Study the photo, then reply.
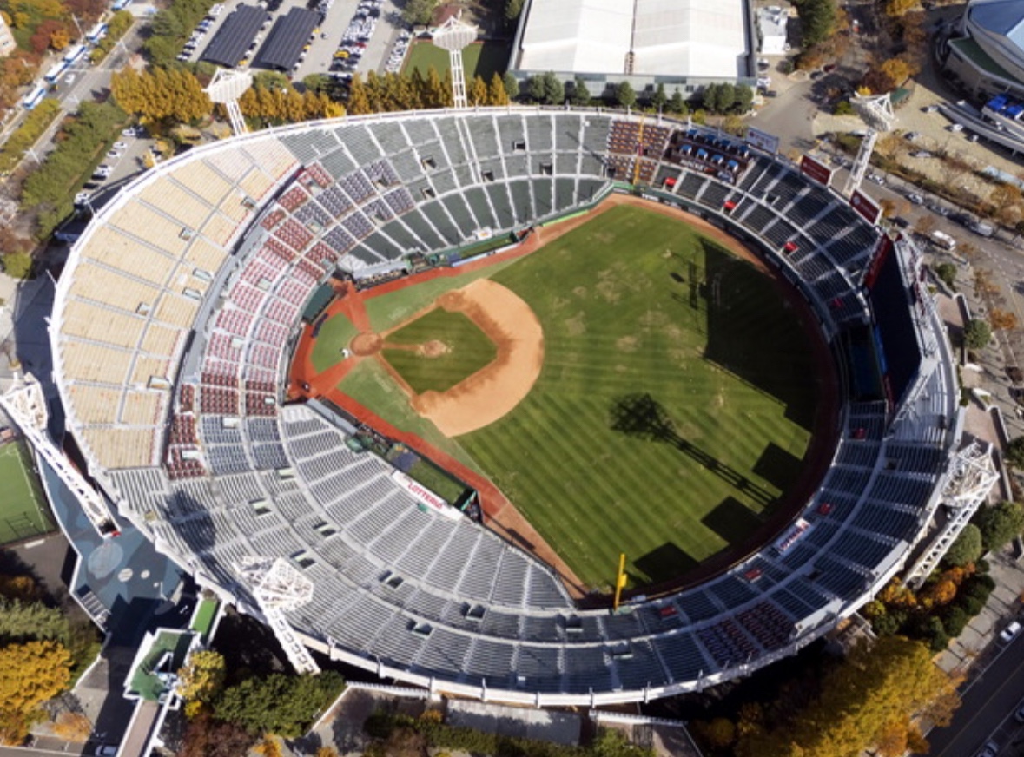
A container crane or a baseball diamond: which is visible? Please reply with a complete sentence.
This aerial view contains a baseball diamond.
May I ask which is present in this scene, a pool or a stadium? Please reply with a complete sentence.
The image shows a stadium.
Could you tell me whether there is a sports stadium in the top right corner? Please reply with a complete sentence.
Yes, you'll find a sports stadium in the top right corner.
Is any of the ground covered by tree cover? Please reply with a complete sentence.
Yes, some tree cover is visible.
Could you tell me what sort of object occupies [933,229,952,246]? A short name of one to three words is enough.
vehicle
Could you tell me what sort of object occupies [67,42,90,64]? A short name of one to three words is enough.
bus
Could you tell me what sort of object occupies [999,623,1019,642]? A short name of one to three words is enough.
car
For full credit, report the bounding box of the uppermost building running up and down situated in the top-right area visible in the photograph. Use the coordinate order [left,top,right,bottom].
[755,5,787,70]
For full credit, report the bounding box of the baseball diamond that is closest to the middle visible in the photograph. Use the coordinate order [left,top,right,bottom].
[272,185,843,601]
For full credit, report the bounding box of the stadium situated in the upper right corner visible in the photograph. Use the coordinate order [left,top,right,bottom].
[925,0,1024,162]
